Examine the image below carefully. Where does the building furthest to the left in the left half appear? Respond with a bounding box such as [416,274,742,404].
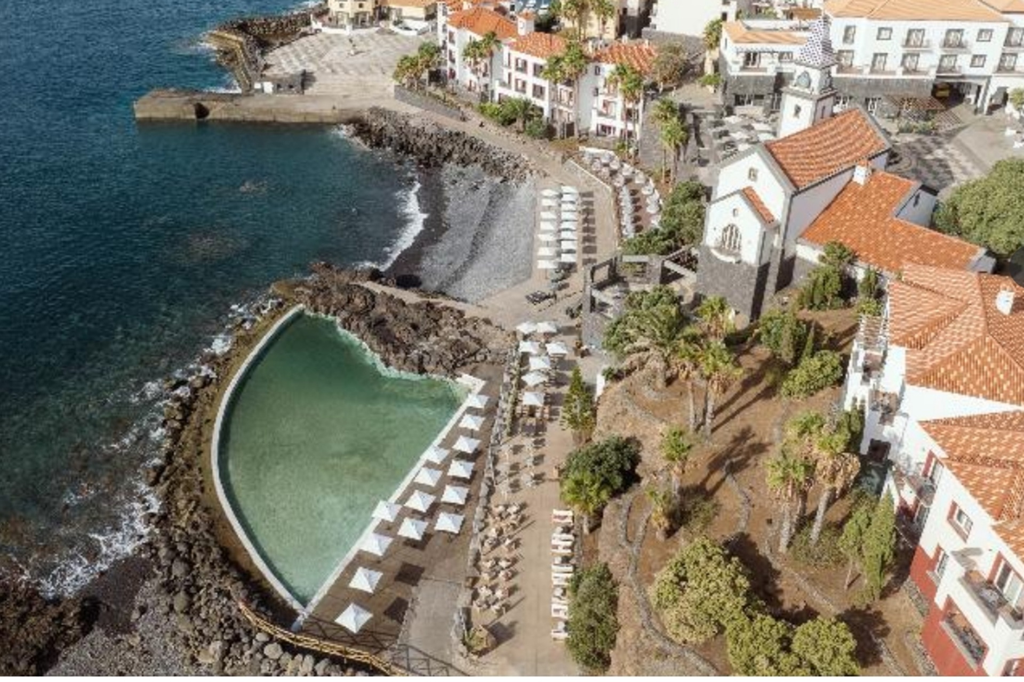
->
[274,69,316,95]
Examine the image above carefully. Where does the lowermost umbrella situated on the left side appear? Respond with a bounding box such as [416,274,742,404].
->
[333,607,371,642]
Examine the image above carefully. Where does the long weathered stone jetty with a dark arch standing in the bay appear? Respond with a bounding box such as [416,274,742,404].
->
[134,88,380,122]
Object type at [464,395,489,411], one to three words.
umbrella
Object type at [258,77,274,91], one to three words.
vehicle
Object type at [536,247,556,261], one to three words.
umbrella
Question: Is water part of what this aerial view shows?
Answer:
Yes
